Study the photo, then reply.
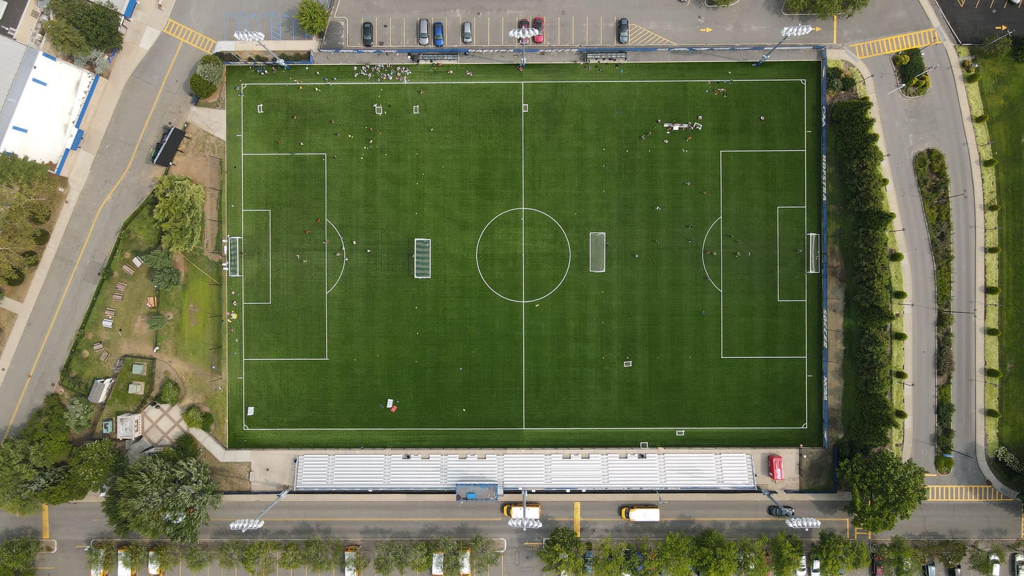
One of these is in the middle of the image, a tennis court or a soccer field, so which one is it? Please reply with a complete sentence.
It is a soccer field that can be seen in the middle of the image.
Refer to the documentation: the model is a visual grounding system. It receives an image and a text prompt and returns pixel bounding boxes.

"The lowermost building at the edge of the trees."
[109,414,142,443]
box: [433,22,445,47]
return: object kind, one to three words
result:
vehicle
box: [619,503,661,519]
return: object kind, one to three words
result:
vehicle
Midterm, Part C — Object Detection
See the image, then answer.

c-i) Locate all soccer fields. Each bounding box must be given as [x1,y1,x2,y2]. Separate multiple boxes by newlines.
[225,60,824,450]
